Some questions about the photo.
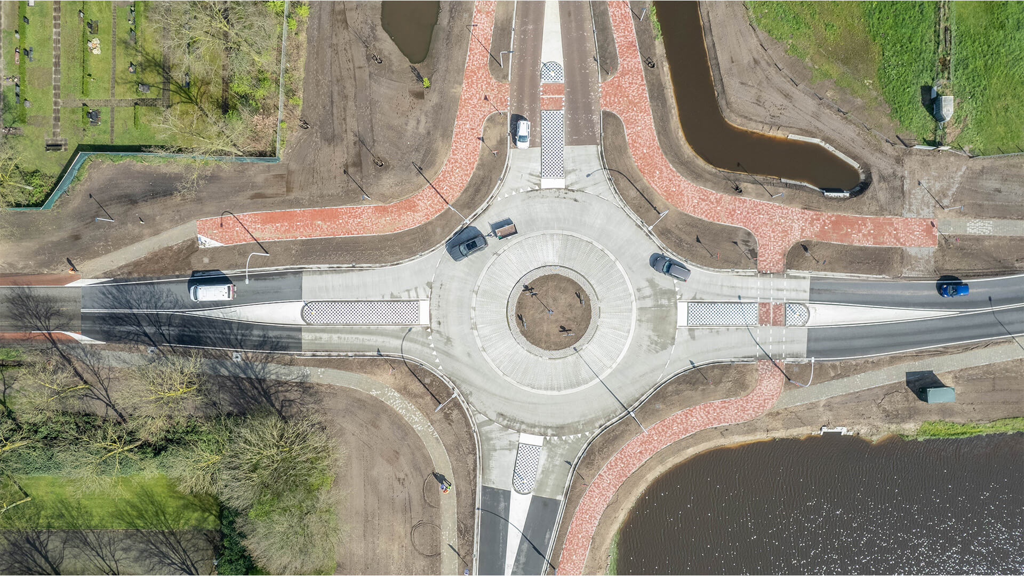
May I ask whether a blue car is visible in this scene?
Yes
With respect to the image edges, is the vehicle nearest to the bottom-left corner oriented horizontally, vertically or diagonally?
horizontally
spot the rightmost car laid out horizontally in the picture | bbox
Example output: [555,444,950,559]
[940,282,972,298]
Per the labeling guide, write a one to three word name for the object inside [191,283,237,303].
vehicle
